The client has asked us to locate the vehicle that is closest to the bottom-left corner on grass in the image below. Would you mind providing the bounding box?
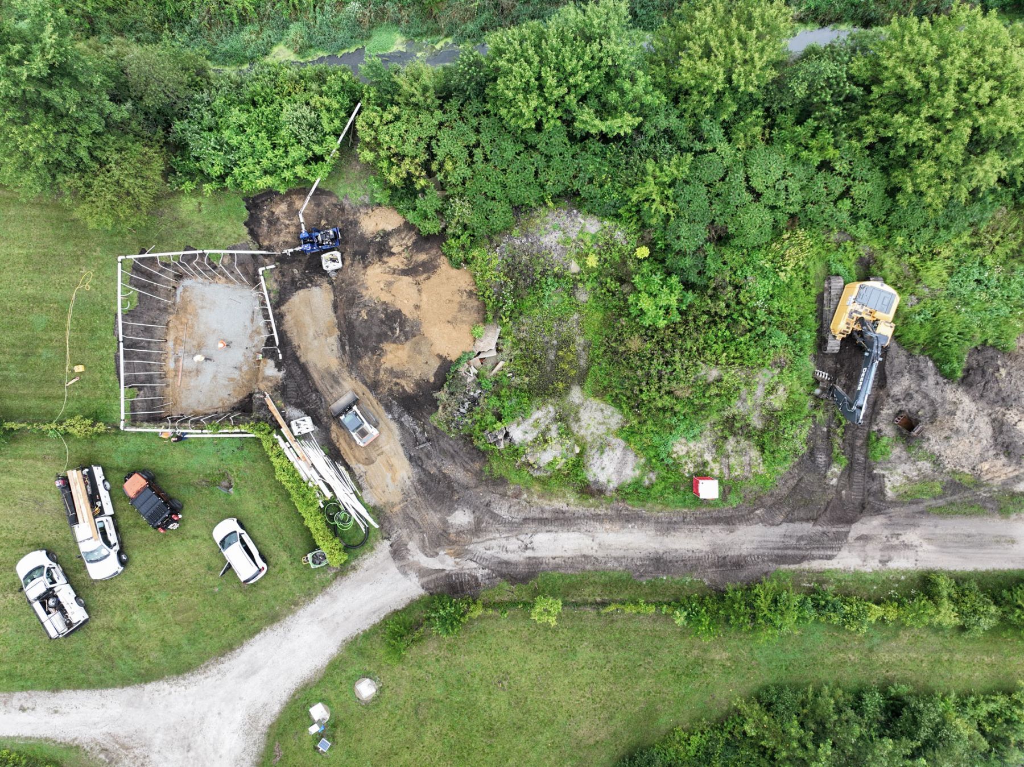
[19,550,92,637]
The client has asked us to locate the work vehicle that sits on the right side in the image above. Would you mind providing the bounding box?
[821,272,901,425]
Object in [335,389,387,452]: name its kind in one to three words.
work vehicle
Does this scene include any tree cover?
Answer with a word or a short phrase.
Yes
